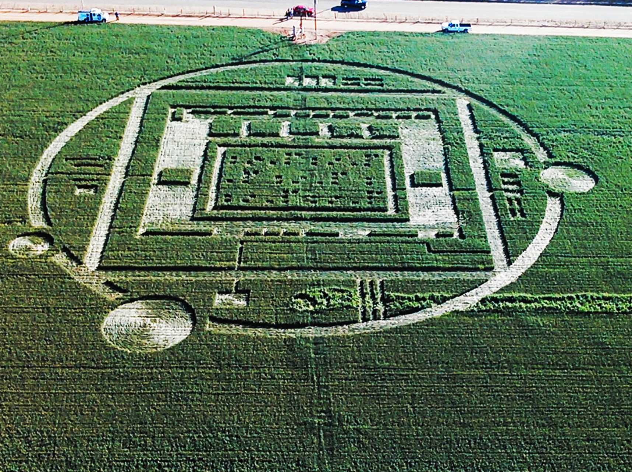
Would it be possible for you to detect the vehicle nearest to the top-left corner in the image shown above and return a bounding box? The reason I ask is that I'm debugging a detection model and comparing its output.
[77,6,110,21]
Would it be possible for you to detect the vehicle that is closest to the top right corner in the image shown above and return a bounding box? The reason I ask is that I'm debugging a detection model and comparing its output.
[443,20,471,32]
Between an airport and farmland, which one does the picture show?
farmland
